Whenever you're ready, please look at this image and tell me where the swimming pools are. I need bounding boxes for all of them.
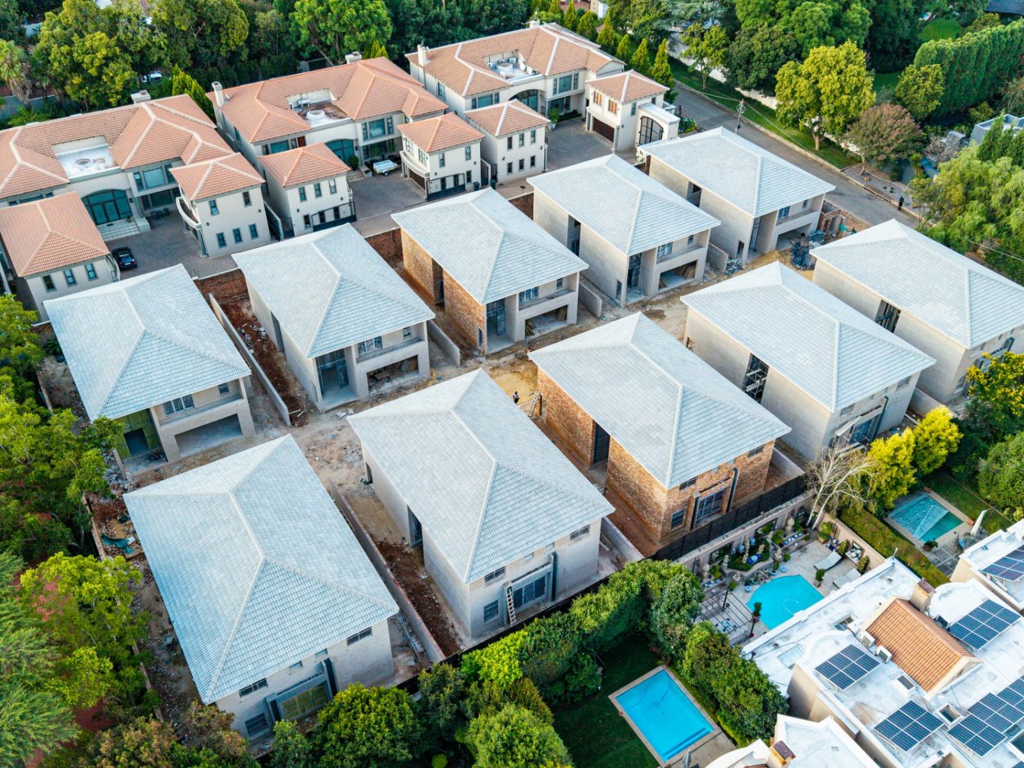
[884,486,974,550]
[746,570,829,634]
[607,662,723,768]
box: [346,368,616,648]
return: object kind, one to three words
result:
house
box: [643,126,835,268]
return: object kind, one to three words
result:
house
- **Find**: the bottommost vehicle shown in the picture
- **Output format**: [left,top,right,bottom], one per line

[110,242,139,268]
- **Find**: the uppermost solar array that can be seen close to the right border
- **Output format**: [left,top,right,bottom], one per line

[981,548,1024,589]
